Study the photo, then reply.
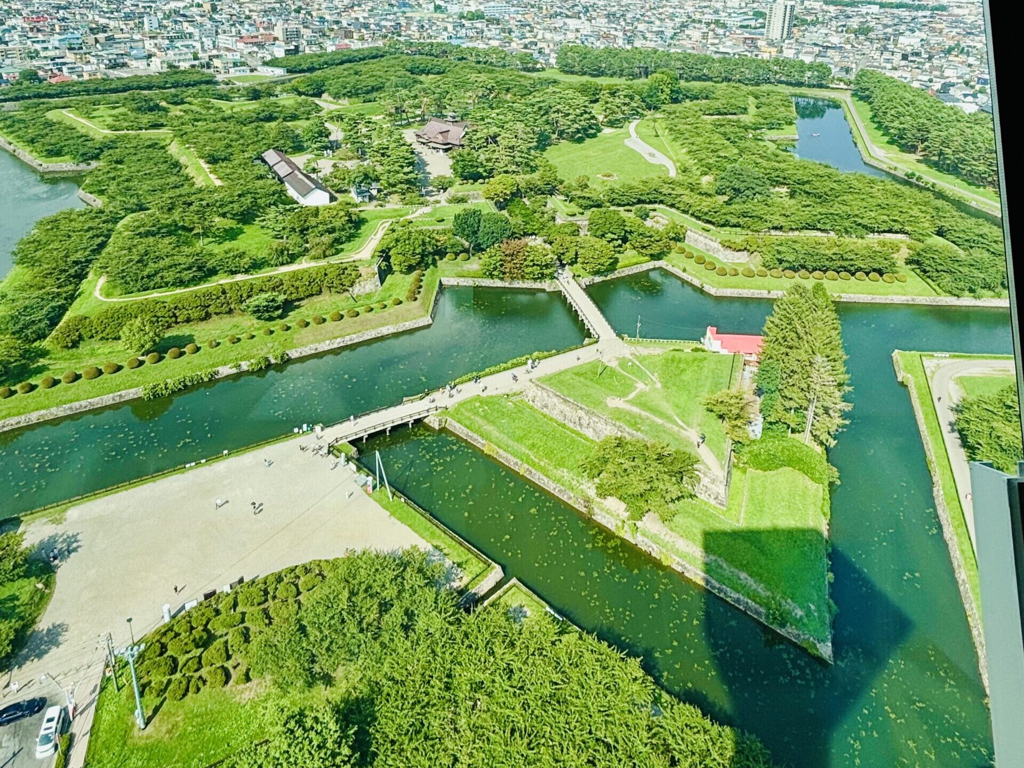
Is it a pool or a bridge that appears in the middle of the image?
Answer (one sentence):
The one visible in the middle of the image is a bridge.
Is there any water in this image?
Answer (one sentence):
Yes, the picture does contain water.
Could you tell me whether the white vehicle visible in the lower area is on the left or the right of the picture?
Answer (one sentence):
You can find the white vehicle visible in the lower area on the left side of the picture.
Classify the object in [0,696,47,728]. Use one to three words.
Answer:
car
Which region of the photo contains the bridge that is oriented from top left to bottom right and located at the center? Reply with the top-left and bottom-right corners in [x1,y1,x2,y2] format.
[558,275,618,341]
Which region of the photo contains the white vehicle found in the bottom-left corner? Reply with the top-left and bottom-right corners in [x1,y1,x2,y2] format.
[37,705,67,760]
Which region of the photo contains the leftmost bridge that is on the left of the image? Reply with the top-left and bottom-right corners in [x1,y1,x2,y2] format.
[307,386,456,453]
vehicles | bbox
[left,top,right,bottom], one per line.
[37,705,67,760]
[0,696,47,728]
